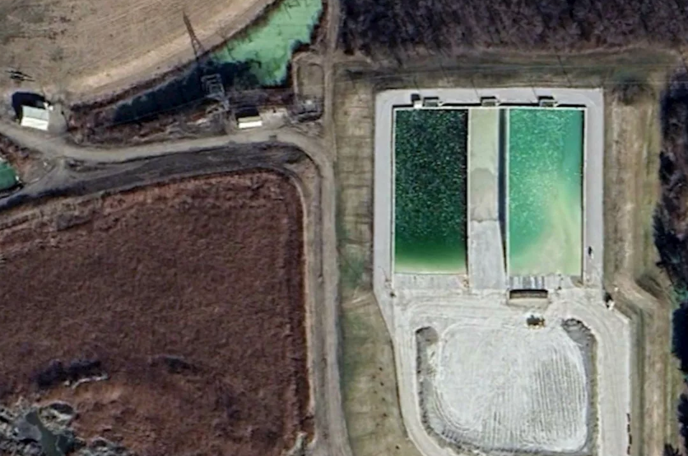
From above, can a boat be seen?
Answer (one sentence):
No, there is no boat in the image.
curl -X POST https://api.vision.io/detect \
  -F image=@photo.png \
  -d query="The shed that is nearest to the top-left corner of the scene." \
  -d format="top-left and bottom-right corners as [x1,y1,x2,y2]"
[19,101,50,129]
